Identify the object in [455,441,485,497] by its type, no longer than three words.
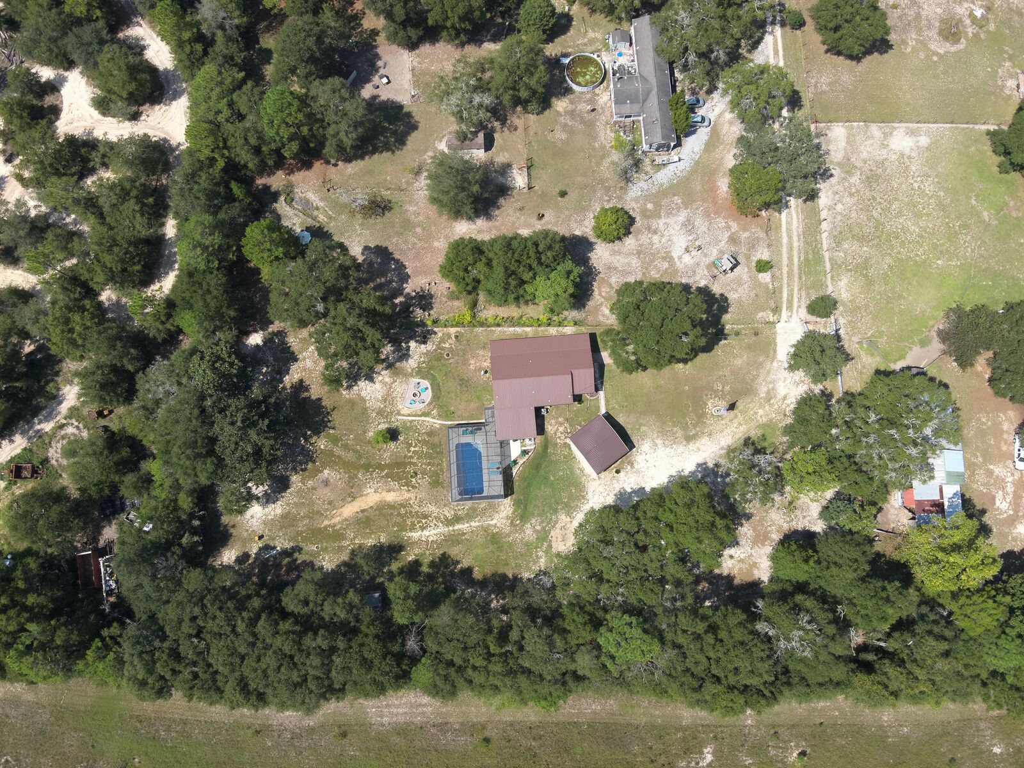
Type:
swimming pool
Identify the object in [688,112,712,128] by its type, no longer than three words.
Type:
car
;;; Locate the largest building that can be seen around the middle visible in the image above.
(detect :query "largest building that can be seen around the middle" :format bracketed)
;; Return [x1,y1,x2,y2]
[489,333,595,440]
